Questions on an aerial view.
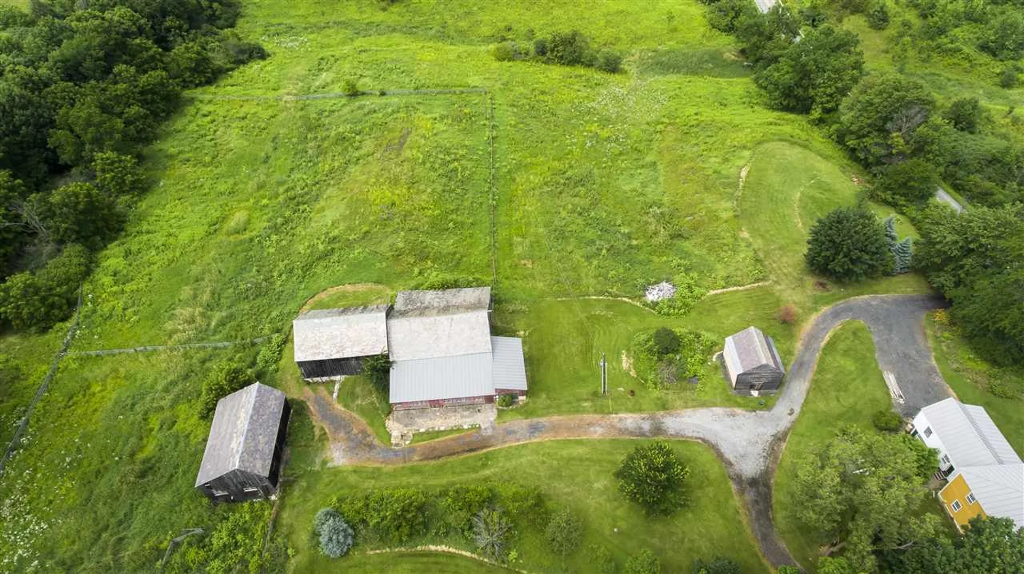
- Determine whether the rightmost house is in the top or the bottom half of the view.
bottom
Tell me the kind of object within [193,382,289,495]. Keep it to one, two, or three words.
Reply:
barn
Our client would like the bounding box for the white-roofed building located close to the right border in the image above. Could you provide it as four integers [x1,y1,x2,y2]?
[911,395,1024,544]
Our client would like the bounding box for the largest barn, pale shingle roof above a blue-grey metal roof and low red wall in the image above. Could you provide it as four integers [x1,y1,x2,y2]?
[388,287,528,413]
